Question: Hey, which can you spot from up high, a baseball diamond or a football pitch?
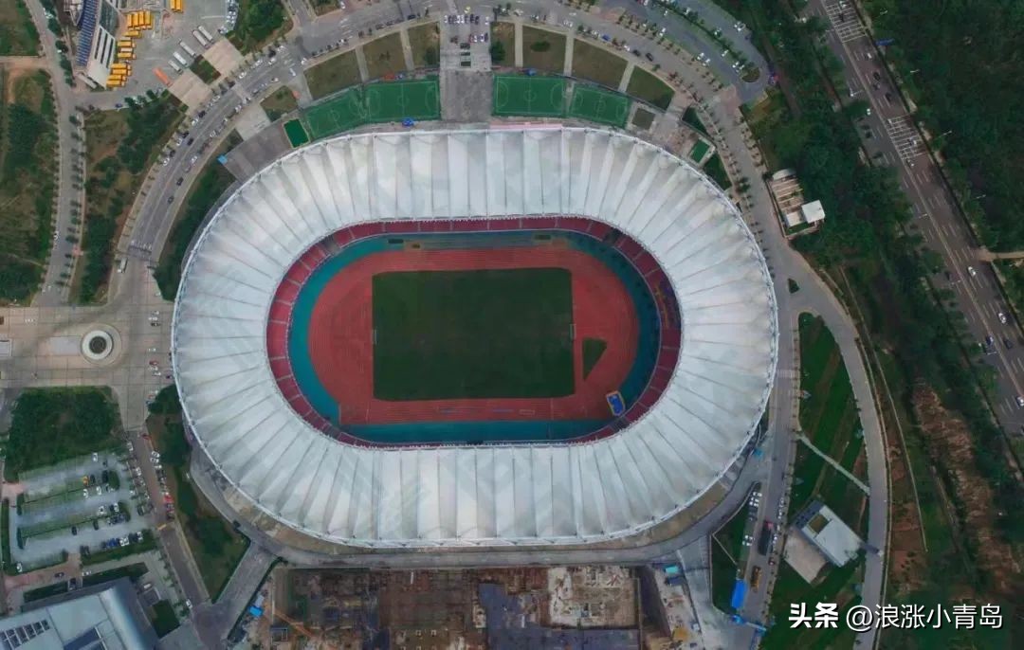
football pitch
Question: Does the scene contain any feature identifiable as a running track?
Yes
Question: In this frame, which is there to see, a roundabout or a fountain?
fountain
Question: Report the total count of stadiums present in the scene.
1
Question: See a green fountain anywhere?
No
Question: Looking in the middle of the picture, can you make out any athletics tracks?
Yes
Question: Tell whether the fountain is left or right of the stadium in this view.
to the left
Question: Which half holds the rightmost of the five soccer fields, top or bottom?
top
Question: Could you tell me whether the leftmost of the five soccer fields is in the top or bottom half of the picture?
top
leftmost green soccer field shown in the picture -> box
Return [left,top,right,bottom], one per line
[304,85,367,139]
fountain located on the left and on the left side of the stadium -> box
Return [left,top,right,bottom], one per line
[79,323,123,366]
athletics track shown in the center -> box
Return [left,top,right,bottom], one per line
[289,231,658,446]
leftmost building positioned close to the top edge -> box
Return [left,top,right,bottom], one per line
[64,0,129,96]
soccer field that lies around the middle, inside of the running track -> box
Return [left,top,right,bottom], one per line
[370,268,579,402]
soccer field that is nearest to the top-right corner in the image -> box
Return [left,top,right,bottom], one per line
[568,81,632,129]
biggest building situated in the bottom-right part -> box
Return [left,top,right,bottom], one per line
[791,499,862,567]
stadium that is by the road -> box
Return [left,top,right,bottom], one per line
[171,126,779,551]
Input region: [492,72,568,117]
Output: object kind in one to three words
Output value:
soccer field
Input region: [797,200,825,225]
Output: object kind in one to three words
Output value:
house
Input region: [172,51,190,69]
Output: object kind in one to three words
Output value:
vehicle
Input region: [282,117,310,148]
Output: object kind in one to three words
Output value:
sports court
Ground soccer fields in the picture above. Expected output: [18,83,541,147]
[363,74,440,123]
[304,85,367,139]
[568,81,632,129]
[370,268,579,402]
[492,72,568,117]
